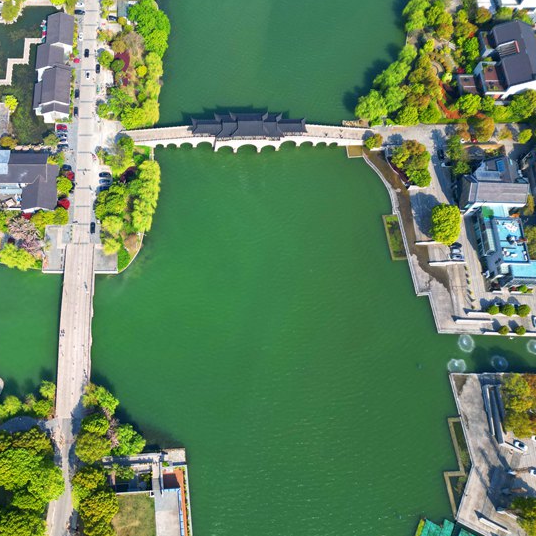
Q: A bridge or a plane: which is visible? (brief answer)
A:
bridge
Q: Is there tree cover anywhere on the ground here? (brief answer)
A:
Yes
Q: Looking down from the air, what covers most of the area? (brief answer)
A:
water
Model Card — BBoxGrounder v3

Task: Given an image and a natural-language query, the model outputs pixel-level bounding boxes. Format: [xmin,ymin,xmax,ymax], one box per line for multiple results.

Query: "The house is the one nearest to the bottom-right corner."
[502,261,536,285]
